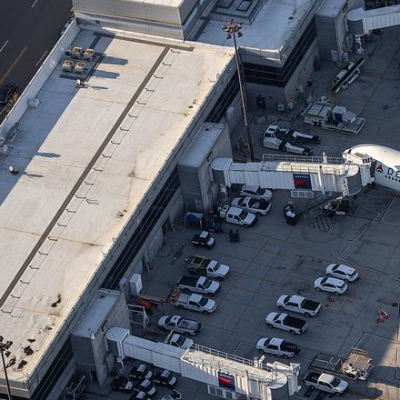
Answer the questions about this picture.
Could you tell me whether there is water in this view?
No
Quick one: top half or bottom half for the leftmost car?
top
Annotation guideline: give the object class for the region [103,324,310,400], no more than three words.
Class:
jet bridge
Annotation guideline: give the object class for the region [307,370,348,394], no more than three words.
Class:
truck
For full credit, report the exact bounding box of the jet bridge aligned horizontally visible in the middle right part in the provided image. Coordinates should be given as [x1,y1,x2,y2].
[207,154,379,225]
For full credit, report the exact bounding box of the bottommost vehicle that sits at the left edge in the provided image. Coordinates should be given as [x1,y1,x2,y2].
[0,79,20,105]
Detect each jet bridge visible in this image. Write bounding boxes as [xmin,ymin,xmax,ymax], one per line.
[207,154,379,225]
[343,2,400,58]
[103,324,310,400]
